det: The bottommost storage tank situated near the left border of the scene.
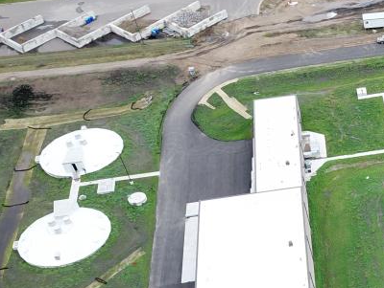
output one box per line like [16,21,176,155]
[10,195,112,271]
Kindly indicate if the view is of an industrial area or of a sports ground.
industrial area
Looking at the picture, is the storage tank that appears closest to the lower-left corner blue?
No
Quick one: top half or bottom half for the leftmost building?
bottom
